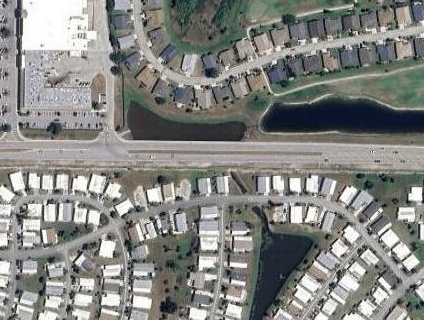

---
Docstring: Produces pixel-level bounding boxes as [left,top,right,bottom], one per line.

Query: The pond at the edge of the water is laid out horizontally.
[122,100,248,141]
